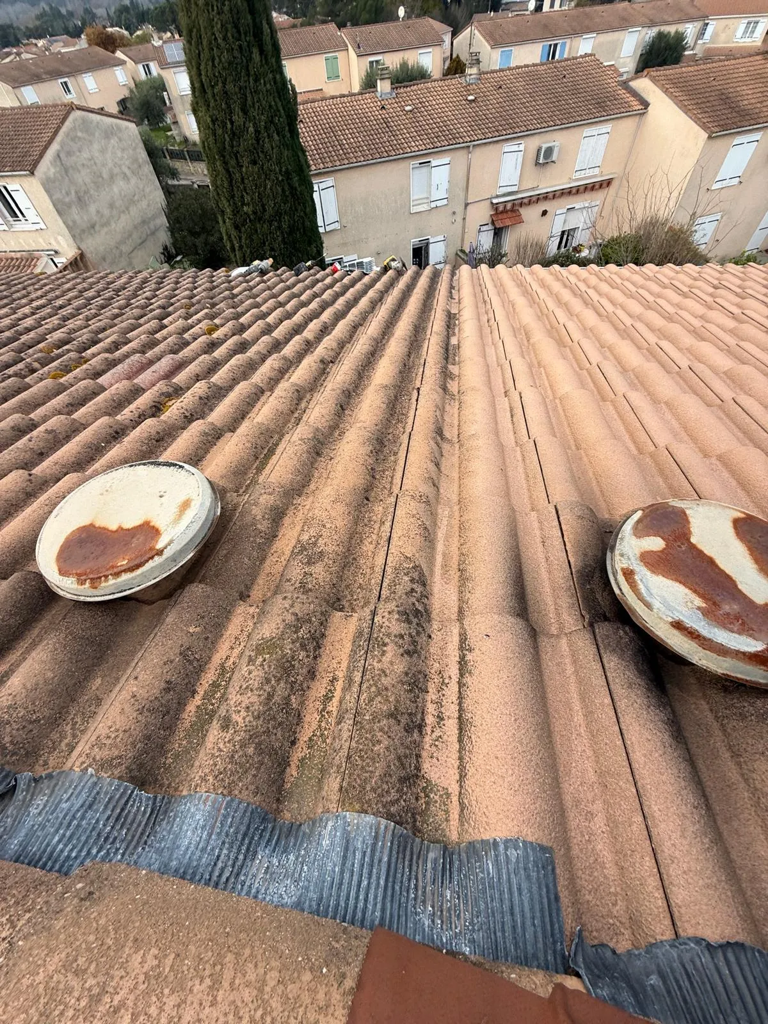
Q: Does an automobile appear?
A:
No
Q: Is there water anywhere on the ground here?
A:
No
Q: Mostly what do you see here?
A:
buildings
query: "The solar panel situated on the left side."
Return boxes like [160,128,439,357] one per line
[149,38,182,58]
